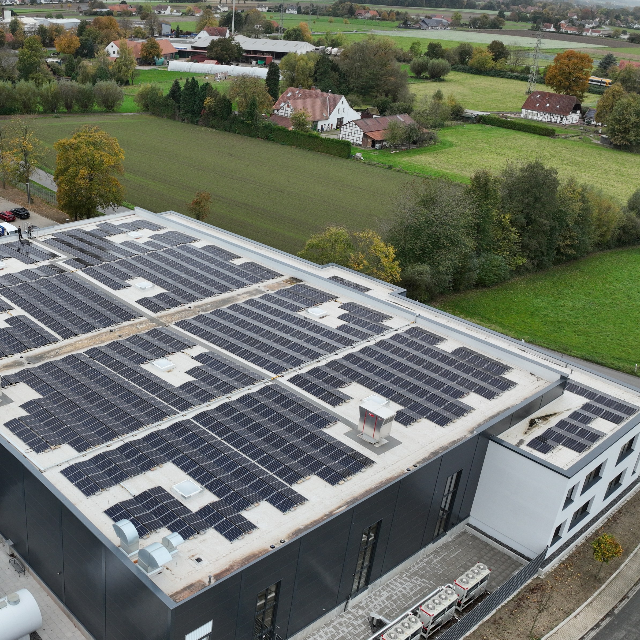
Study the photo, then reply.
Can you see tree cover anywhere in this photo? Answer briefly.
Yes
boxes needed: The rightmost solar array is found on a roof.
[525,378,640,457]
